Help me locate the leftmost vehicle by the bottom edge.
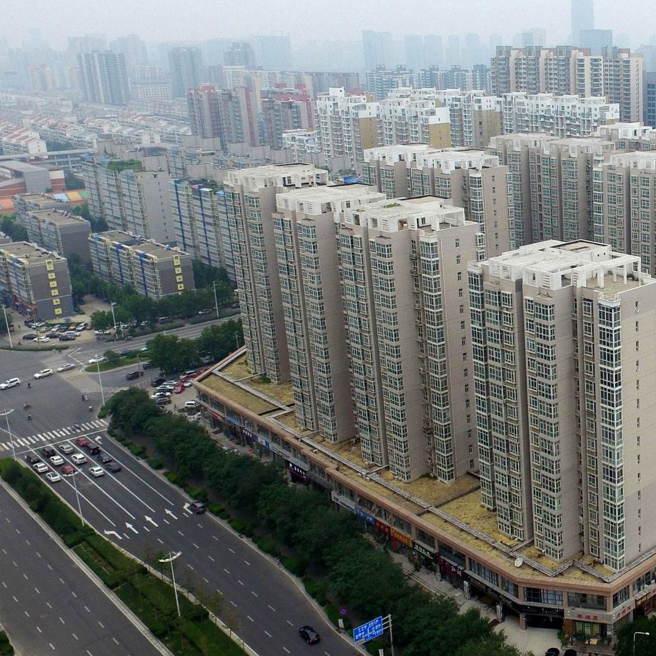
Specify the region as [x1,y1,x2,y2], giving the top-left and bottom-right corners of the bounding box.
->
[295,625,324,647]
